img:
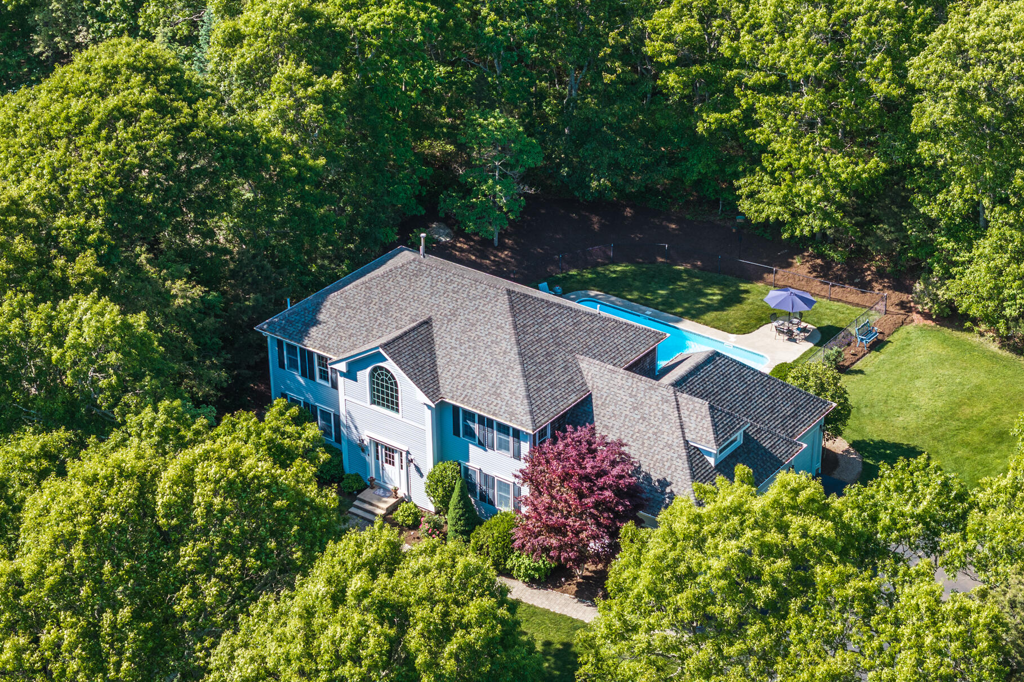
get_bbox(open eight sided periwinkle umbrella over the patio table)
[765,288,818,338]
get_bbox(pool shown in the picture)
[565,296,766,369]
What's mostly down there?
trees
